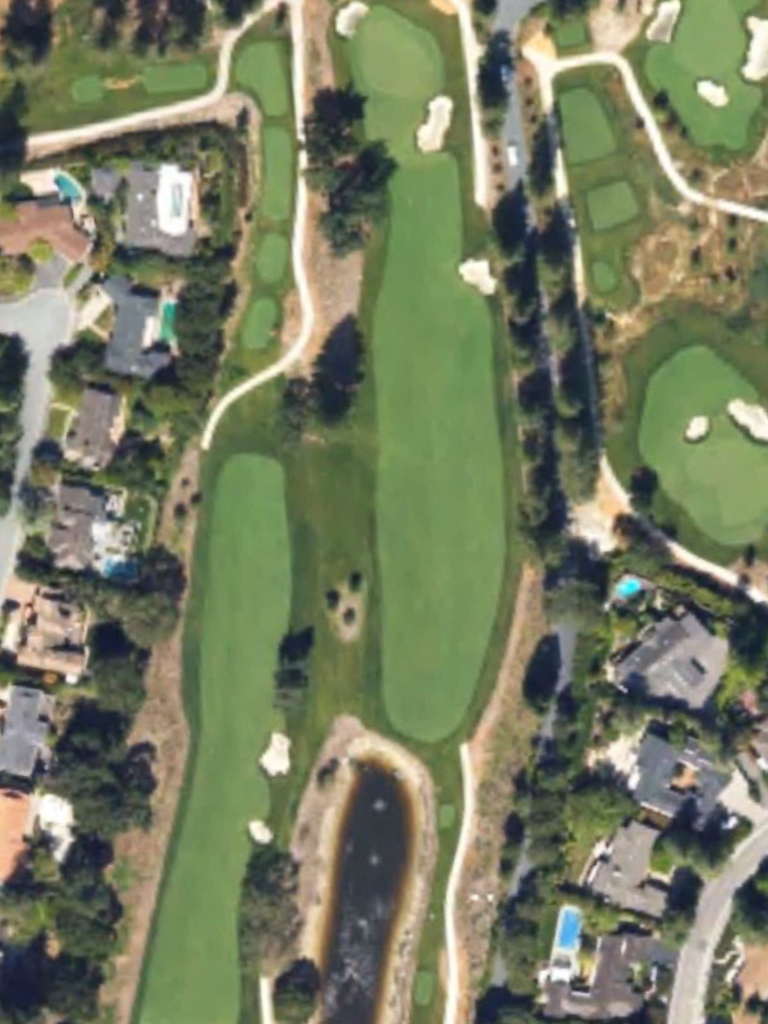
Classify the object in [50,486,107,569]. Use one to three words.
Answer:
house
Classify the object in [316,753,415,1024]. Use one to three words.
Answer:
pond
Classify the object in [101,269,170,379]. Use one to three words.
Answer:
house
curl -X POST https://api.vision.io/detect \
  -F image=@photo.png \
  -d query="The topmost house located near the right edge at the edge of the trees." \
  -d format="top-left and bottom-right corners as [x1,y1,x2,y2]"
[611,610,735,705]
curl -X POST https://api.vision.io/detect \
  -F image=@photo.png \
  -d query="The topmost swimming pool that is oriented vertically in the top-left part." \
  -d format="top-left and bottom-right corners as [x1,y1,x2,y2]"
[170,183,183,216]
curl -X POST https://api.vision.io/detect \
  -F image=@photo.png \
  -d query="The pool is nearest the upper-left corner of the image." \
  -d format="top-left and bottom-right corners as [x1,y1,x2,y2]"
[53,174,83,202]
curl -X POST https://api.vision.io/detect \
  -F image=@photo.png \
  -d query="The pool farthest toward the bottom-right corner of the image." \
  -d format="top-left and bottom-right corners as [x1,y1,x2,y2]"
[555,904,584,954]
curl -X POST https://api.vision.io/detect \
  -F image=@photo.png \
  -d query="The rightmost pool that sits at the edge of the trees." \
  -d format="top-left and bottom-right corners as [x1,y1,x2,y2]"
[615,576,643,599]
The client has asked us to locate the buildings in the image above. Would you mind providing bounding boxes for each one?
[749,721,768,768]
[16,585,89,677]
[0,197,90,263]
[0,788,29,885]
[65,389,118,466]
[50,486,107,569]
[611,610,735,705]
[0,683,50,775]
[632,732,739,819]
[598,817,667,917]
[101,269,170,379]
[540,932,678,1019]
[90,162,194,255]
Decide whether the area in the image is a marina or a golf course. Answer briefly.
golf course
